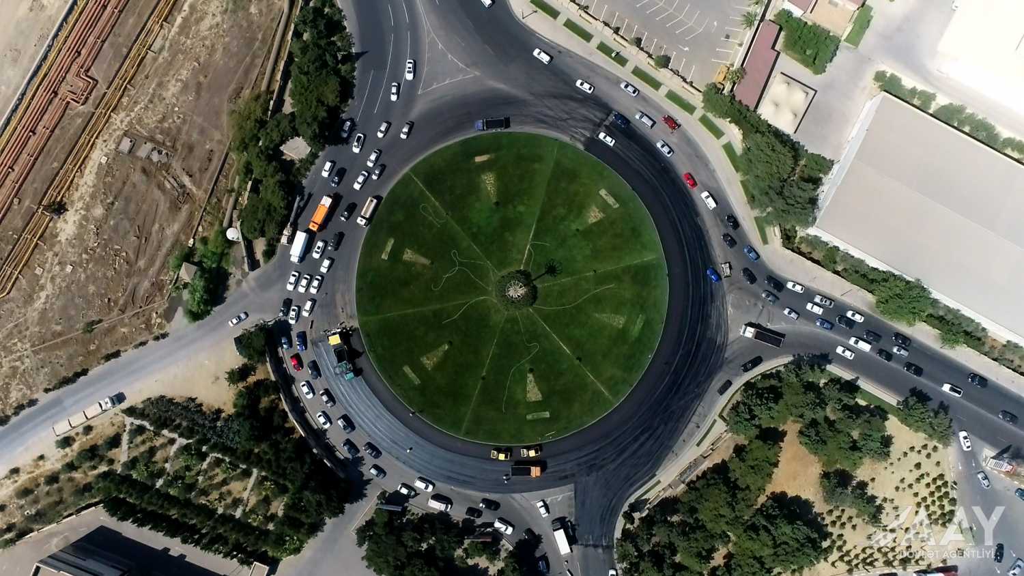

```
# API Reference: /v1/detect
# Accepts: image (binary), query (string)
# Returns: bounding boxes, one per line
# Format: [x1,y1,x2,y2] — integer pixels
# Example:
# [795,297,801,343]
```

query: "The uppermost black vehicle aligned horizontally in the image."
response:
[474,116,510,132]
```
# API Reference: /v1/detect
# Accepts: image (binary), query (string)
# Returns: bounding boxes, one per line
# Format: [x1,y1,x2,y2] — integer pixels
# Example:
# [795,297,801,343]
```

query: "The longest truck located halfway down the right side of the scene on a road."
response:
[737,323,785,348]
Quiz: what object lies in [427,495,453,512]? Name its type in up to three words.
vehicle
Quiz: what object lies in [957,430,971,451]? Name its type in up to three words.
car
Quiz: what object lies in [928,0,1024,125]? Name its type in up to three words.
building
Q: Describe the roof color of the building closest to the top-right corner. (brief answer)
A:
white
